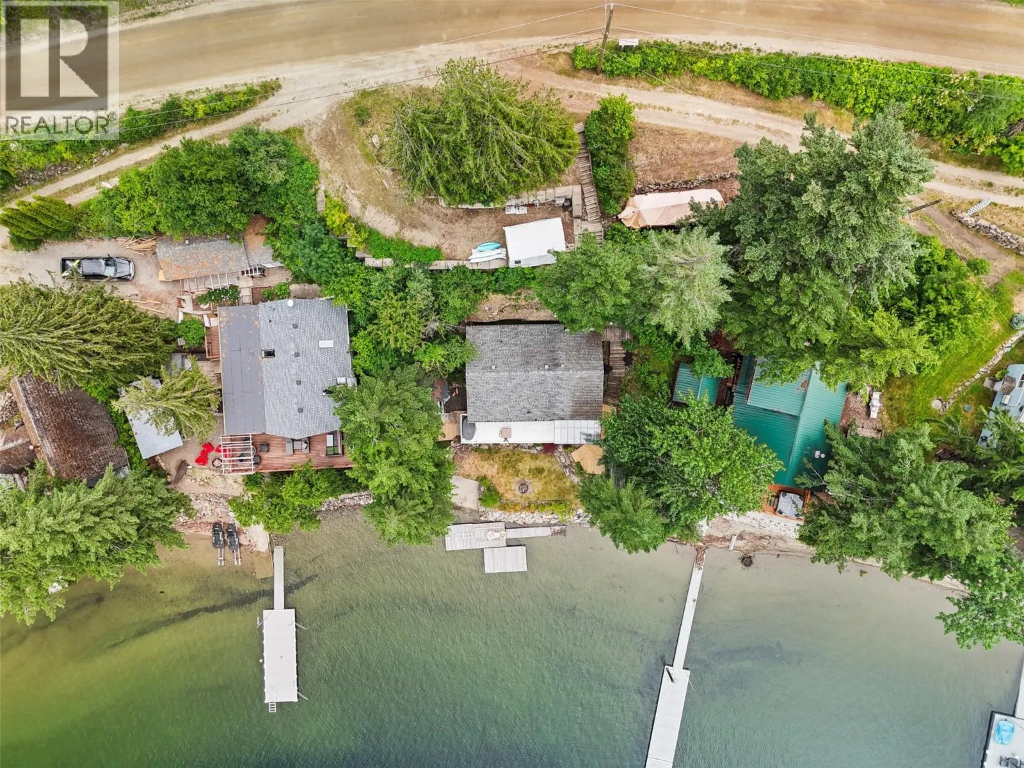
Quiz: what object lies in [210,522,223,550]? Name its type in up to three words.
boat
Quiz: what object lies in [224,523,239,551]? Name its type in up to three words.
boat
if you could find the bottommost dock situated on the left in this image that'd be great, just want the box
[256,608,308,703]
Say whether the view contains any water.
Yes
